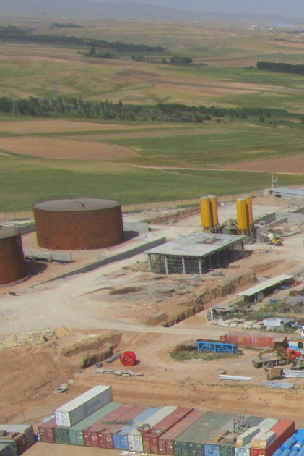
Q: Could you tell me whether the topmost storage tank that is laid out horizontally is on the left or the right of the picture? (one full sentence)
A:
The topmost storage tank that is laid out horizontally is on the left side of the image.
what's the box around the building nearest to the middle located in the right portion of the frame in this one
[146,232,245,275]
